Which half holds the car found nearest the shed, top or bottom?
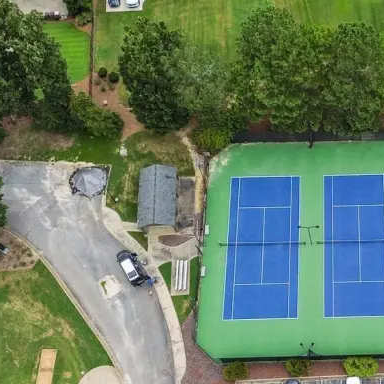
bottom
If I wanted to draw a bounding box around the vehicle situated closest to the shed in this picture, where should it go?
[119,250,150,287]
